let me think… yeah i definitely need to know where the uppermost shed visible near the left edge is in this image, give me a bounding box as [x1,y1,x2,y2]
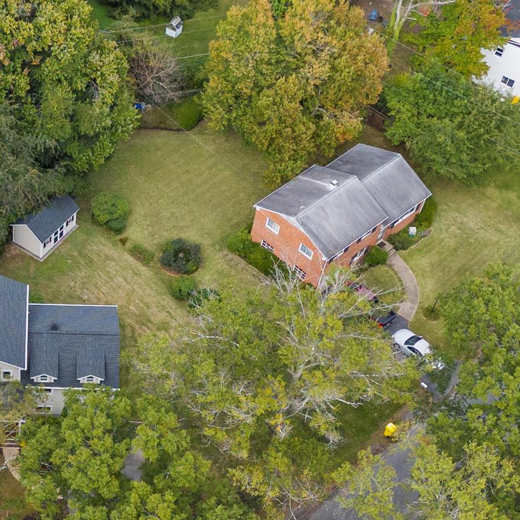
[9,191,83,264]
